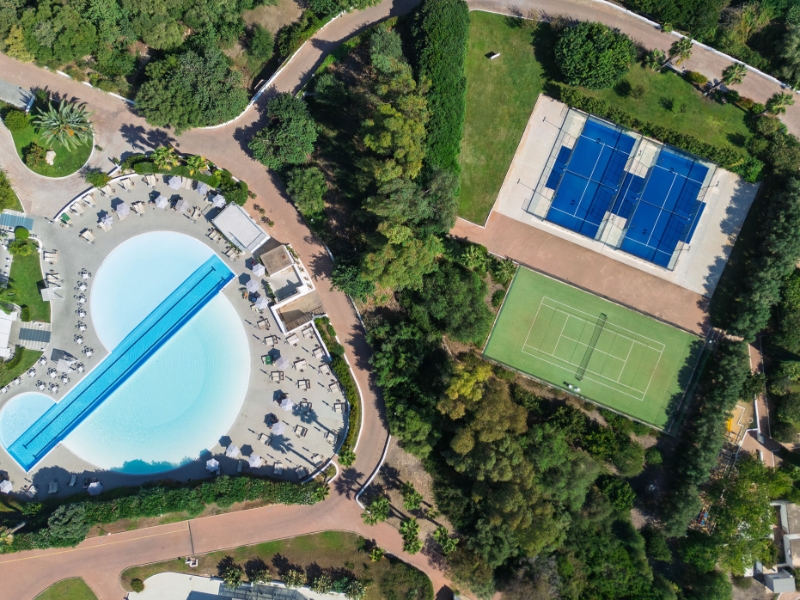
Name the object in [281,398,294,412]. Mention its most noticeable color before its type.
white umbrella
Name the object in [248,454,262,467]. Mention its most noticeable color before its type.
white umbrella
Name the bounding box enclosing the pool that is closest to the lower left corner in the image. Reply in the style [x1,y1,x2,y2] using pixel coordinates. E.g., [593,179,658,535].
[0,230,252,476]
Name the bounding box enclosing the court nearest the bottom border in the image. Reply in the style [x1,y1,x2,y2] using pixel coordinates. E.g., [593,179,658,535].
[484,264,718,440]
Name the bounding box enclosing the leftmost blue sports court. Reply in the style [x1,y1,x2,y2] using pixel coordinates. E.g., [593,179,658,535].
[545,111,646,240]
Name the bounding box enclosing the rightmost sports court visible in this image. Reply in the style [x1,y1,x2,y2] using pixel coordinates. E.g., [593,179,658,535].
[620,141,723,269]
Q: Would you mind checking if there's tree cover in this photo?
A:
Yes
